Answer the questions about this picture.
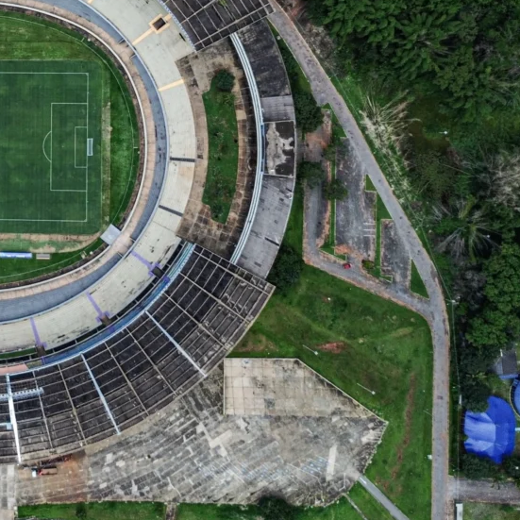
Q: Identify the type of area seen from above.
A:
sports ground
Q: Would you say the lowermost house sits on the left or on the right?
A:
right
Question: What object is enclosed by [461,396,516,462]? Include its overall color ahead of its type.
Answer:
blue tent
